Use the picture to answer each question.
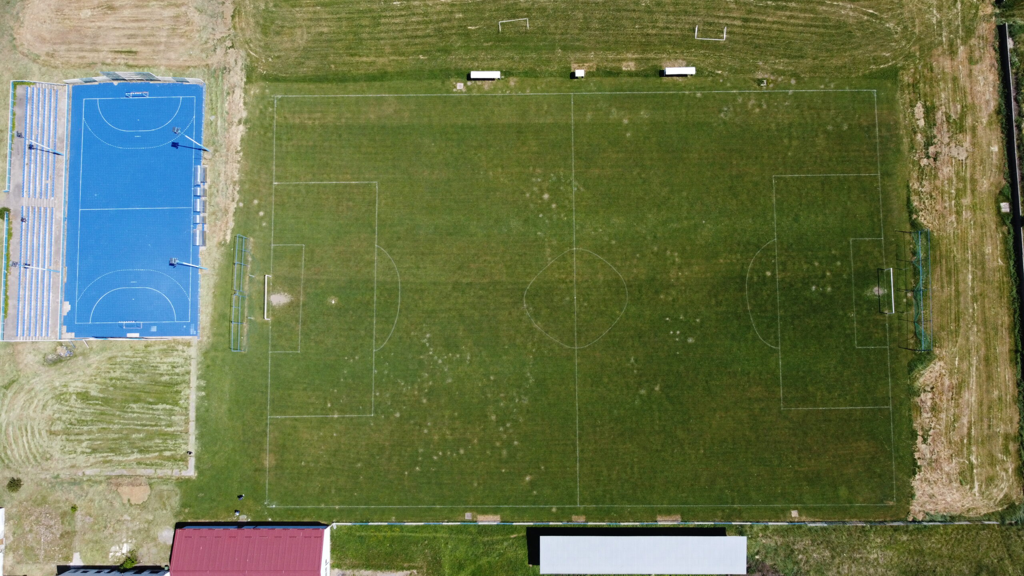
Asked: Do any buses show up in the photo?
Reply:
No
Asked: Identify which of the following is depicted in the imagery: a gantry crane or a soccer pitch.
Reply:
soccer pitch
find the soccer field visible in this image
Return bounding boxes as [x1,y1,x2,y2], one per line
[250,87,901,514]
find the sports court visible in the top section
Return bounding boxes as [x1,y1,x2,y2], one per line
[60,81,206,340]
